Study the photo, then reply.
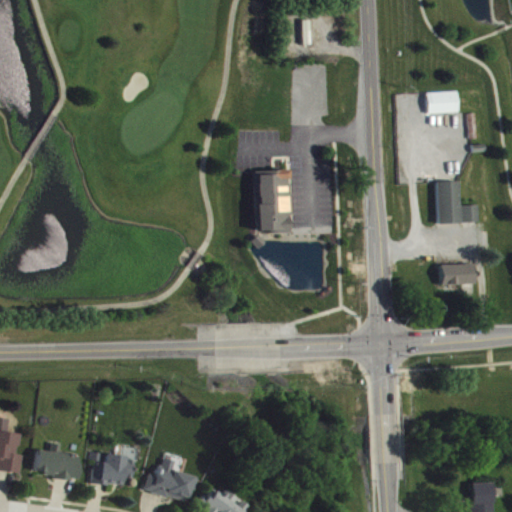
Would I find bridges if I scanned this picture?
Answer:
Yes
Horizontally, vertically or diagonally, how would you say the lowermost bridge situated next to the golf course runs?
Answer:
horizontally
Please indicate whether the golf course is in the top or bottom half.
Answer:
top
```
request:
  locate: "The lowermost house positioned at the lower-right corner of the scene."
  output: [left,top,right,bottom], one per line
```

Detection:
[470,482,504,512]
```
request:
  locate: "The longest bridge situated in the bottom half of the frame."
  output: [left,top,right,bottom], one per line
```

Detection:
[186,322,303,374]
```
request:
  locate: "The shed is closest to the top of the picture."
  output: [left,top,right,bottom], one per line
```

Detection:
[300,18,312,46]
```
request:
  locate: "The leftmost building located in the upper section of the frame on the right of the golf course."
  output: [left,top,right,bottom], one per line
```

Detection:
[255,170,293,232]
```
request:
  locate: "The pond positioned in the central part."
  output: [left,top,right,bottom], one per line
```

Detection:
[252,240,324,290]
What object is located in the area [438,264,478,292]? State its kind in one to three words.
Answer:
house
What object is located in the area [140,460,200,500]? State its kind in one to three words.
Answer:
house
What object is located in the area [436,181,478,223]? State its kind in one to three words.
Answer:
building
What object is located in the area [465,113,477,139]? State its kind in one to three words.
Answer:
shed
